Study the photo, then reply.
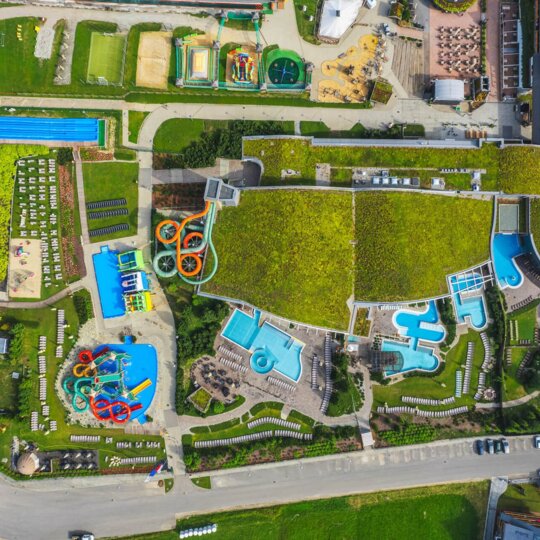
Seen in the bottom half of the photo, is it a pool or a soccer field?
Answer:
pool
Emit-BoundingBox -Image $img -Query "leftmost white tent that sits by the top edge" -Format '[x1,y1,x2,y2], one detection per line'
[319,0,365,43]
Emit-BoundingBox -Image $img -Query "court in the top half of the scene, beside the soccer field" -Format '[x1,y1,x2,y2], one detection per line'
[136,32,172,89]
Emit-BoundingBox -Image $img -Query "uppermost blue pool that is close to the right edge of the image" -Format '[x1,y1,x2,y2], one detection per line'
[493,233,525,288]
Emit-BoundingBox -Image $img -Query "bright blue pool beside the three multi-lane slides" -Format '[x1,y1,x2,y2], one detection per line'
[92,245,132,319]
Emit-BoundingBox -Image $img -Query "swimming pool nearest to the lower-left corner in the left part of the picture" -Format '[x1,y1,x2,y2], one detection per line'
[85,335,159,426]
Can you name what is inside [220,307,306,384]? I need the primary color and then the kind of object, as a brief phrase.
blue swimming pool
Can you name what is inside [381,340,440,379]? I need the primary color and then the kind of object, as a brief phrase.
blue swimming pool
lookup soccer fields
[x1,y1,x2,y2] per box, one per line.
[85,28,127,86]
